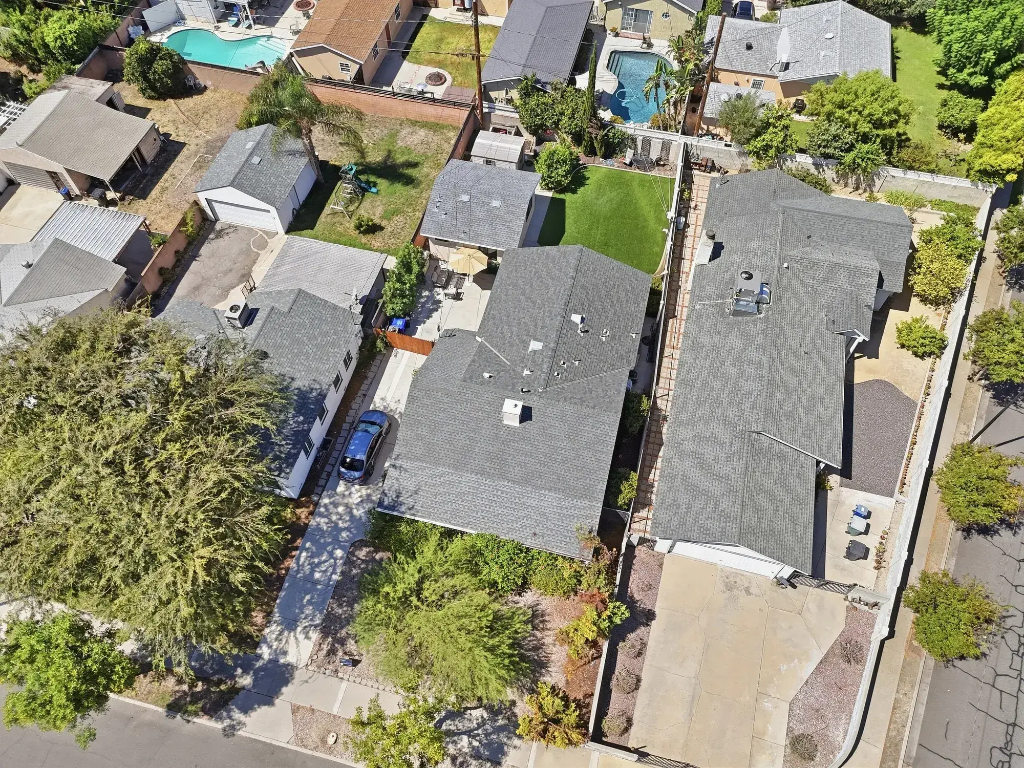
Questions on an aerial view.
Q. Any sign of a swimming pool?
Yes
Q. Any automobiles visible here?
Yes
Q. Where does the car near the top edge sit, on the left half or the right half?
right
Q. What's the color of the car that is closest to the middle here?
blue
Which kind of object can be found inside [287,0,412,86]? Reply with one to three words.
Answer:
house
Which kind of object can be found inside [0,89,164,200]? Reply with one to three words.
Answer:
building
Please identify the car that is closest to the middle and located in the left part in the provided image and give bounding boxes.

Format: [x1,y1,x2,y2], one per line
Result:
[335,409,387,484]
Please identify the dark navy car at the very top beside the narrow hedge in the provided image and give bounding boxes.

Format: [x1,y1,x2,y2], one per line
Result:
[730,0,754,21]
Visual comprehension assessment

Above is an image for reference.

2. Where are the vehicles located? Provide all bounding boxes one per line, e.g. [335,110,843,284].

[335,409,387,484]
[730,0,754,21]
